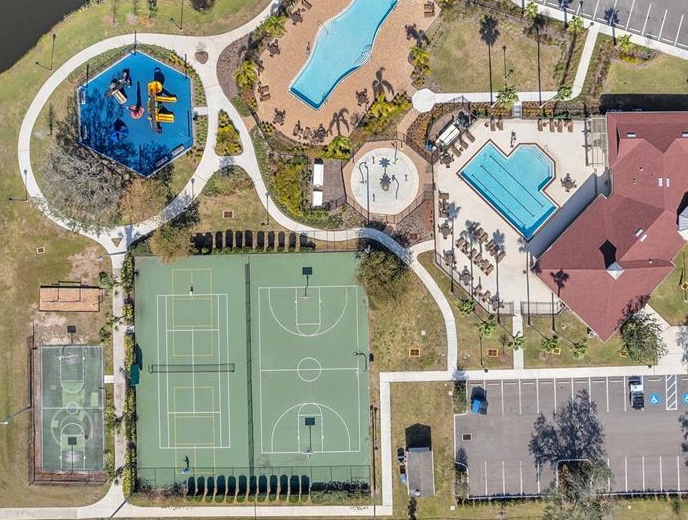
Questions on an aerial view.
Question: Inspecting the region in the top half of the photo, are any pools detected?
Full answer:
Yes, a pool shows up in the top half of the photo.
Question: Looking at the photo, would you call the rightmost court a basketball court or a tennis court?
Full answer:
Looking closely, the rightmost court is a basketball court.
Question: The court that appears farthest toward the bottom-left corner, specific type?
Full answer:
From above, the court that appears farthest toward the bottom-left corner can be identified as a basketball court.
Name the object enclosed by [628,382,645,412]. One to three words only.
car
